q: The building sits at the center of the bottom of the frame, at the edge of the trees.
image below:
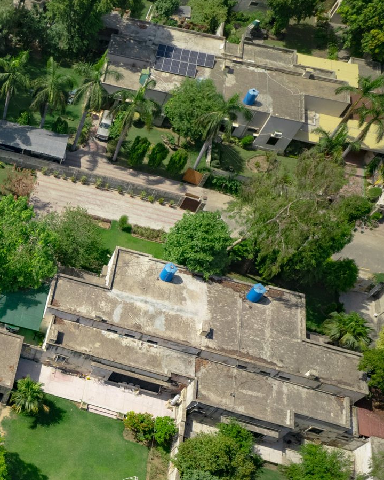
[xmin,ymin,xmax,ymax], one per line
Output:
[41,247,368,480]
